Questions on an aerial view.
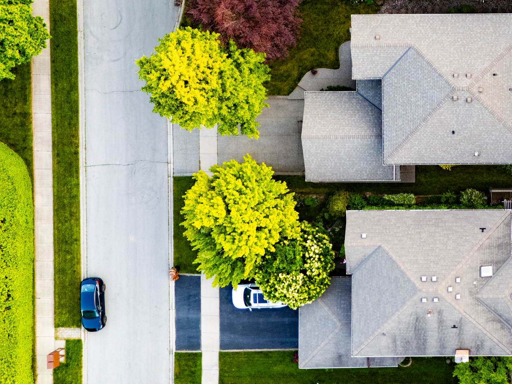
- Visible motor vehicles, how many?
2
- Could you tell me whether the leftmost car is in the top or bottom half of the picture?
bottom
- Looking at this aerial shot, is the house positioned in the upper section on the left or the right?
right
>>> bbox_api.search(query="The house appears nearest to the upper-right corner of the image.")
[302,12,512,183]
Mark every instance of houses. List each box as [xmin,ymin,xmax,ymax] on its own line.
[302,12,512,183]
[298,205,512,370]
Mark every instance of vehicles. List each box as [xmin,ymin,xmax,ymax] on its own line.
[233,283,289,311]
[79,275,110,329]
